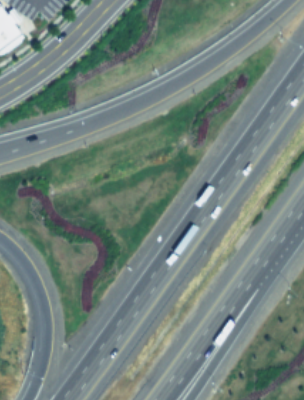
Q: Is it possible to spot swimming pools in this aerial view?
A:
No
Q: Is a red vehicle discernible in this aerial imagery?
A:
No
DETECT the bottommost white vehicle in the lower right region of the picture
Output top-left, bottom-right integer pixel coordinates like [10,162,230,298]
[216,318,236,345]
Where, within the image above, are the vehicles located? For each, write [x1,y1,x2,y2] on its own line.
[57,30,67,40]
[243,166,252,177]
[110,346,120,356]
[26,135,38,142]
[170,226,200,264]
[290,96,300,108]
[212,206,222,219]
[196,186,216,210]
[204,347,214,358]
[216,318,236,345]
